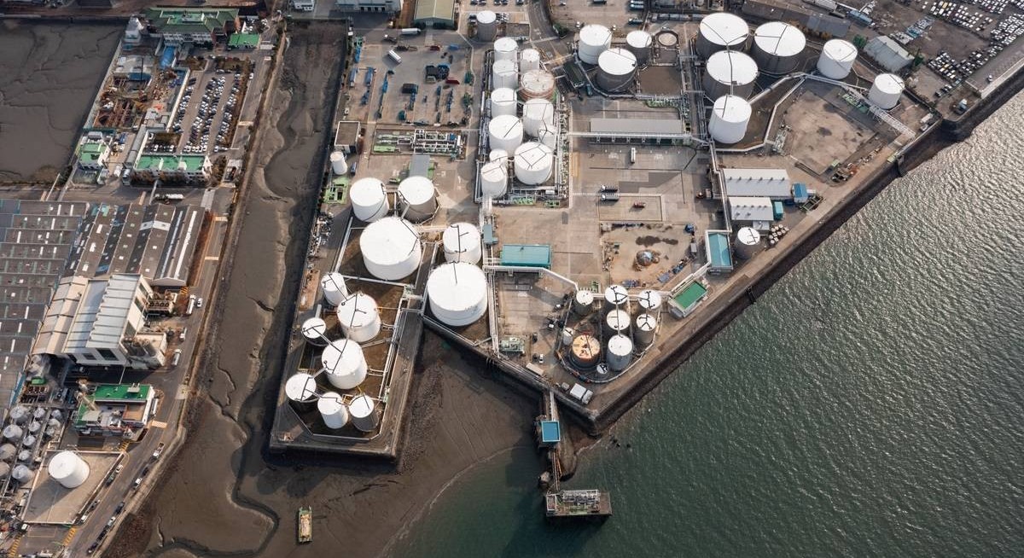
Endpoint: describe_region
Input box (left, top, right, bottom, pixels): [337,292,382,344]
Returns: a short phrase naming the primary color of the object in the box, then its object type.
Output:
white storage tank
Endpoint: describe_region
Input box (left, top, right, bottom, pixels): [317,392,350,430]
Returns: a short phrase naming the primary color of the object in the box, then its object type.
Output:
white storage tank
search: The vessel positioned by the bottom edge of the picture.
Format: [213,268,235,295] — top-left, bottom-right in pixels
[296,502,312,544]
